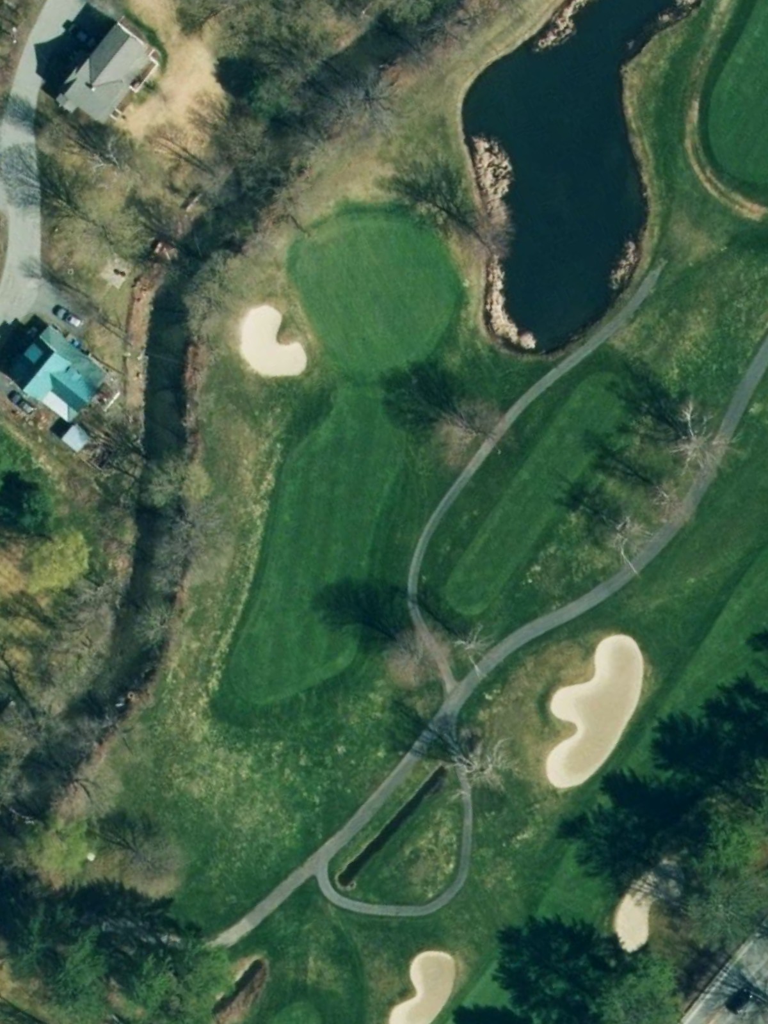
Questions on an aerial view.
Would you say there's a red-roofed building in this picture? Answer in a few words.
No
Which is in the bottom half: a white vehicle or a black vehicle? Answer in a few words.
black vehicle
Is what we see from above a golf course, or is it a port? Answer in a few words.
golf course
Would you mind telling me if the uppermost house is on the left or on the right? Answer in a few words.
left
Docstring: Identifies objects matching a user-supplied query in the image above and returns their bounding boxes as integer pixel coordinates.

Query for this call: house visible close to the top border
[56,20,172,135]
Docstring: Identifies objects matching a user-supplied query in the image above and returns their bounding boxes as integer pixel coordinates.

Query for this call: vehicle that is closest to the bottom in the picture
[727,986,755,1016]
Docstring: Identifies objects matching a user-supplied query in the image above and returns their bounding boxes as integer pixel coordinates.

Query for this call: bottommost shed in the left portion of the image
[61,424,89,453]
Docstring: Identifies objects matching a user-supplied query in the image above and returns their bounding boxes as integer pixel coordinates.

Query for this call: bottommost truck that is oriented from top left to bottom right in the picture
[5,389,37,415]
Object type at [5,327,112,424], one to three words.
house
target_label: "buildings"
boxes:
[5,327,112,424]
[61,424,89,453]
[56,20,172,135]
